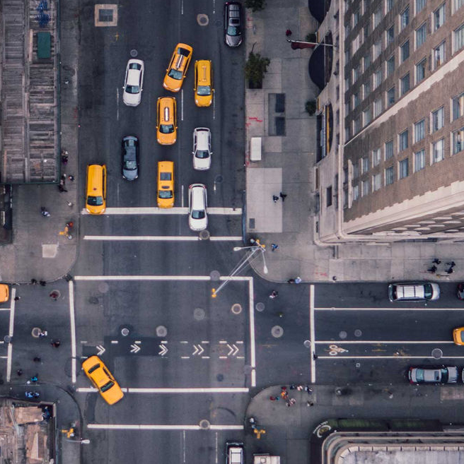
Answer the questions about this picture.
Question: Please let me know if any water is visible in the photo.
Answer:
No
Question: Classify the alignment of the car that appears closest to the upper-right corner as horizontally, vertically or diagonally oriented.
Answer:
vertically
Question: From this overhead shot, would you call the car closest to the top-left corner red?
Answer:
No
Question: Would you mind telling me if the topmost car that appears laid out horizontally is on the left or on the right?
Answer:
right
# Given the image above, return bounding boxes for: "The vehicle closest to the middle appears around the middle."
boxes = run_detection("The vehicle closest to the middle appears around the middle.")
[186,183,209,232]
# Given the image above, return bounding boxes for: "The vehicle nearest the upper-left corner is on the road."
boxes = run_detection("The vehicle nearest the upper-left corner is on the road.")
[122,59,144,107]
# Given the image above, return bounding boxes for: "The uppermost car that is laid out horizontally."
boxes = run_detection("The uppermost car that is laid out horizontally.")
[388,280,440,304]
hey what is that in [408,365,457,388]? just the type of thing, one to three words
car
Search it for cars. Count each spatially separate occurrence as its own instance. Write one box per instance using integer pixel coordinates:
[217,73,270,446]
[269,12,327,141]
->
[155,96,177,146]
[155,161,176,209]
[164,41,192,96]
[191,127,212,171]
[0,283,10,304]
[84,165,107,215]
[186,183,209,232]
[122,59,144,107]
[119,135,140,181]
[408,365,457,388]
[222,1,244,49]
[83,354,123,407]
[388,280,440,304]
[224,442,244,464]
[452,326,464,346]
[192,60,214,108]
